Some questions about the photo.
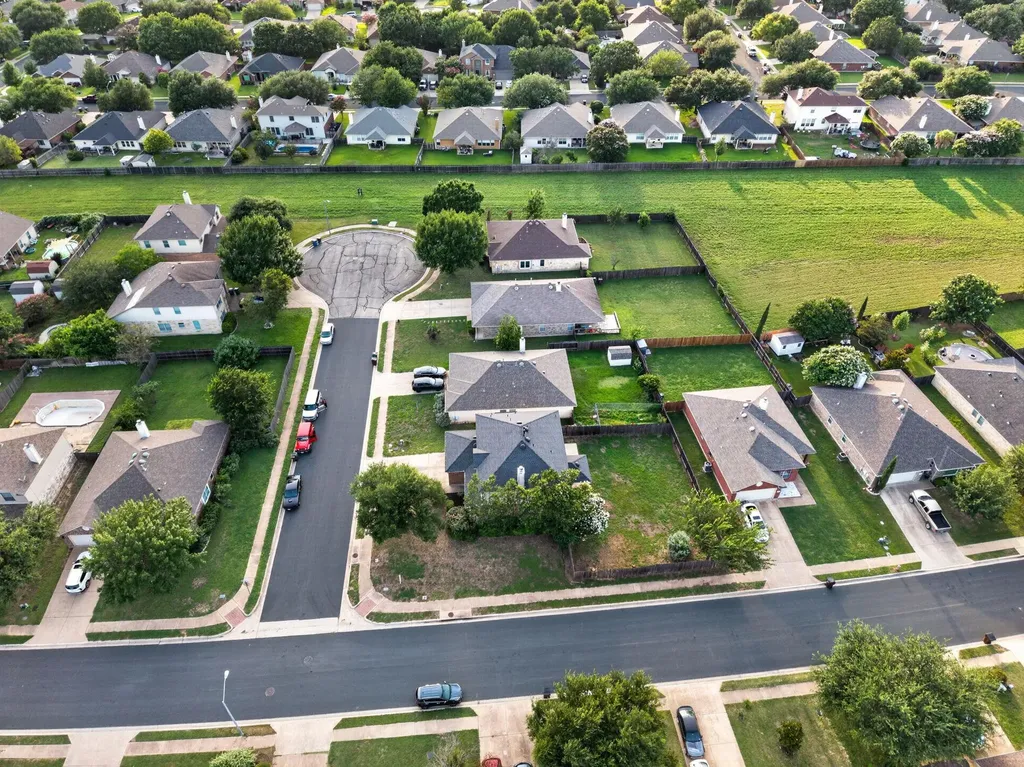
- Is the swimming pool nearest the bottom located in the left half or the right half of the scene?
left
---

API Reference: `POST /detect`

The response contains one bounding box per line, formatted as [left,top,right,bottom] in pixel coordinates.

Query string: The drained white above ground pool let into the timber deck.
[36,399,103,430]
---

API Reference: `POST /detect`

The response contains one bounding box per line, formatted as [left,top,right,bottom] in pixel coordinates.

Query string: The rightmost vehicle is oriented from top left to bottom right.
[909,488,953,530]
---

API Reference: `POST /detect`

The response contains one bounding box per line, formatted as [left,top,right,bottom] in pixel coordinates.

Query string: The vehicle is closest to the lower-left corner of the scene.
[65,555,92,592]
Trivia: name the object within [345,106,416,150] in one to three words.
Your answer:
house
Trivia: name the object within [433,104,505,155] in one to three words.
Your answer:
house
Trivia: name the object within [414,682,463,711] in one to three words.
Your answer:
car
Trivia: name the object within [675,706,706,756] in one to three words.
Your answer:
car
